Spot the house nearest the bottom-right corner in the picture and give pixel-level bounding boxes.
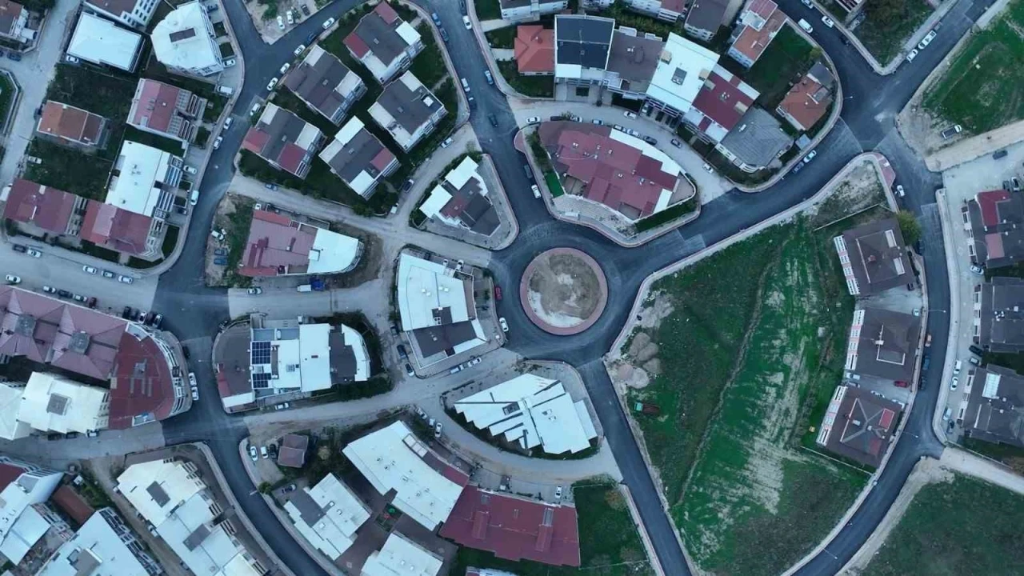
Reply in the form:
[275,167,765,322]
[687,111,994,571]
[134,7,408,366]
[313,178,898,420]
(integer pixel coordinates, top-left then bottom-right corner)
[951,363,1024,447]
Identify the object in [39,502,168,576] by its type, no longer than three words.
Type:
building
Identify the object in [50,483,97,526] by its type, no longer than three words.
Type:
shed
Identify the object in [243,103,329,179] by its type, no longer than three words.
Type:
house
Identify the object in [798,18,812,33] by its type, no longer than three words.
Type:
vehicle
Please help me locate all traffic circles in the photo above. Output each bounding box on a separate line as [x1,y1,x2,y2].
[520,247,608,334]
